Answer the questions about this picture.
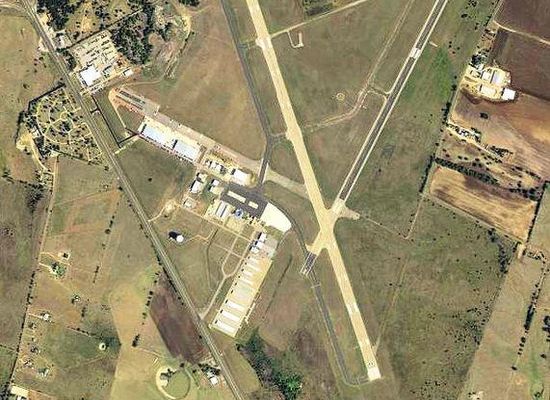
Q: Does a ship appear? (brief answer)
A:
No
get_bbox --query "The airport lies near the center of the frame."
[116,0,447,383]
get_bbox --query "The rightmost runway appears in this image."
[338,0,447,205]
